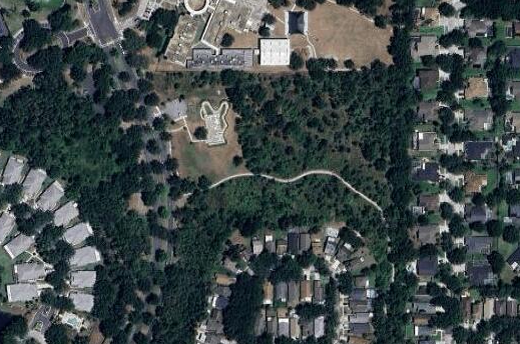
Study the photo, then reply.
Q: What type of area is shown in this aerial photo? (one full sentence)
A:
The picture captures a residential area.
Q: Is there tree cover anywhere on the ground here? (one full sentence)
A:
Yes, the picture does contain tree cover.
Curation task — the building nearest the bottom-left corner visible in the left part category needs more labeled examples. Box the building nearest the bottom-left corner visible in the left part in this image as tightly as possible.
[7,281,41,301]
